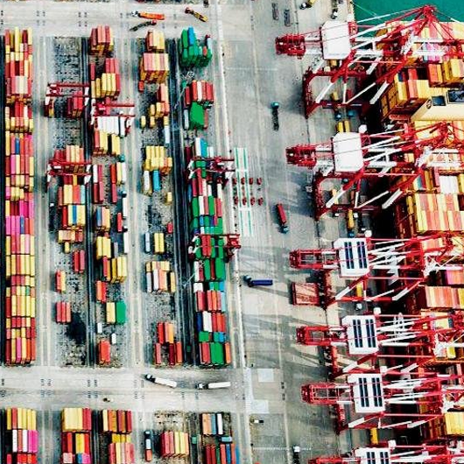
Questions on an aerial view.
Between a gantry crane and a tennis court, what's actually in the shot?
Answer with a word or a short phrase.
gantry crane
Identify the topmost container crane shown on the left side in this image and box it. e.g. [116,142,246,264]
[43,82,89,117]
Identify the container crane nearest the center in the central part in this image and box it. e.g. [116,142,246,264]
[186,232,239,265]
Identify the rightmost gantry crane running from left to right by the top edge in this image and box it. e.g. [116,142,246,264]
[275,3,464,106]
